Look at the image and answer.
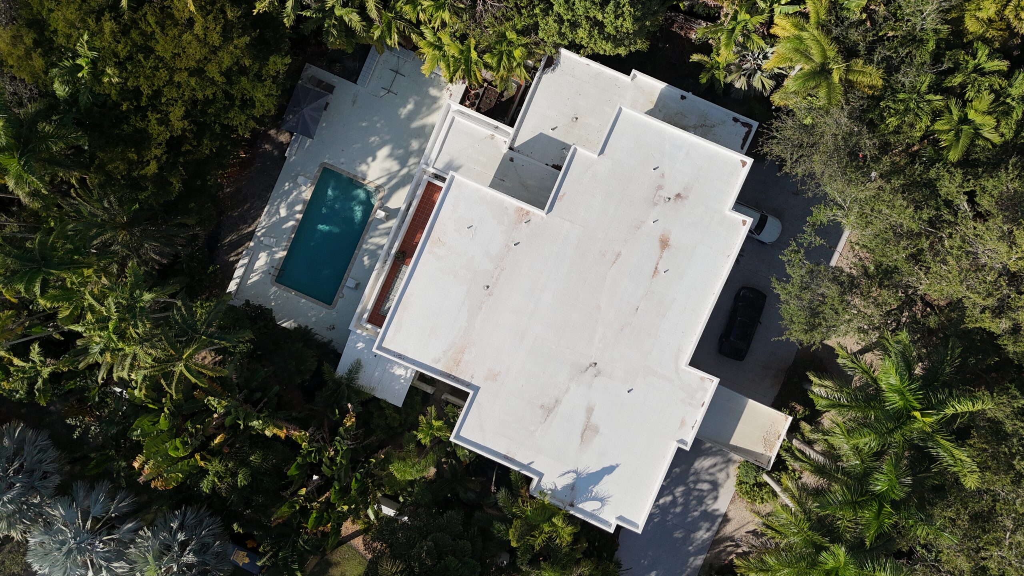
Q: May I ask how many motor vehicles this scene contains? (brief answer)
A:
2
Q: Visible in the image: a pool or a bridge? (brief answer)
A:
pool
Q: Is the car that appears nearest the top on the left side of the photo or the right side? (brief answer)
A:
right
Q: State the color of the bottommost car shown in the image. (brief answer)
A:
black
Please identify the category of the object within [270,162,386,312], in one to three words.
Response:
swimming pool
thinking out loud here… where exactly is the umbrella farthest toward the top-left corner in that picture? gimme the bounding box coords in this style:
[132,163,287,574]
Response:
[279,85,331,142]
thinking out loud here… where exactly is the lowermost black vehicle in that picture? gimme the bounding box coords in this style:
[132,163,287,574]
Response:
[717,285,768,362]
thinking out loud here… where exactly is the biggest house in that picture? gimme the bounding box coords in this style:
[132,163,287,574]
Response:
[348,45,758,533]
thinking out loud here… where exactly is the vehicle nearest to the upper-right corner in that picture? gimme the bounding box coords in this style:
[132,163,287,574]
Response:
[732,199,781,244]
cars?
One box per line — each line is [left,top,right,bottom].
[717,285,768,362]
[732,199,781,244]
